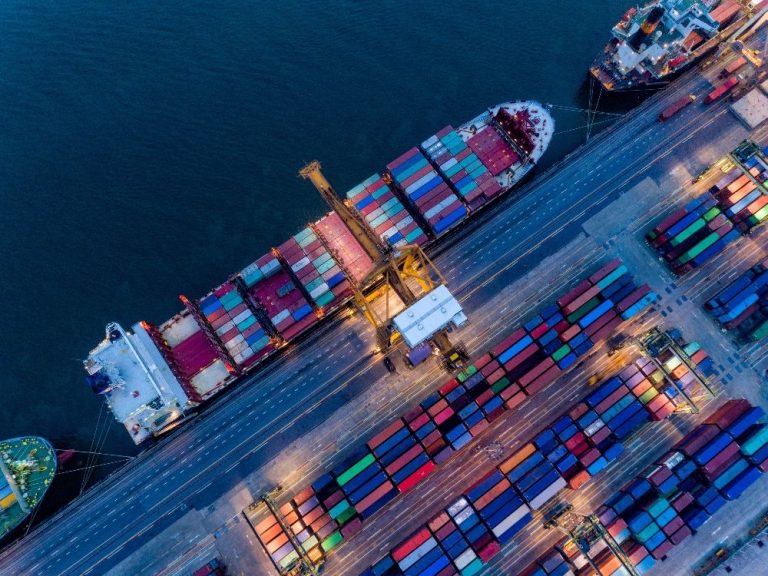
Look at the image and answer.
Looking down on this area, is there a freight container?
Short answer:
Yes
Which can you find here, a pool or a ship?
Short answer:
ship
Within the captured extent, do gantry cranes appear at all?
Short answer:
Yes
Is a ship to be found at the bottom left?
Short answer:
Yes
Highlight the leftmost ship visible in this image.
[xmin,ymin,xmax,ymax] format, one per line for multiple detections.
[0,442,73,540]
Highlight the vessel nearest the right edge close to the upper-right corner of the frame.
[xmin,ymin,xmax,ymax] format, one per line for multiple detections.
[591,0,768,90]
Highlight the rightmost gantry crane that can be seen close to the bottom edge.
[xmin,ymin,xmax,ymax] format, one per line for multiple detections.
[547,505,644,576]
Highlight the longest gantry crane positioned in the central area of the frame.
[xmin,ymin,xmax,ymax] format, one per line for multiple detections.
[293,150,475,375]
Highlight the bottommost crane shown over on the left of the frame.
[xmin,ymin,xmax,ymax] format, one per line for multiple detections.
[237,484,327,576]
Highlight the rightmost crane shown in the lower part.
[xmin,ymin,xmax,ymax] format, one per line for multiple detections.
[617,328,722,418]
